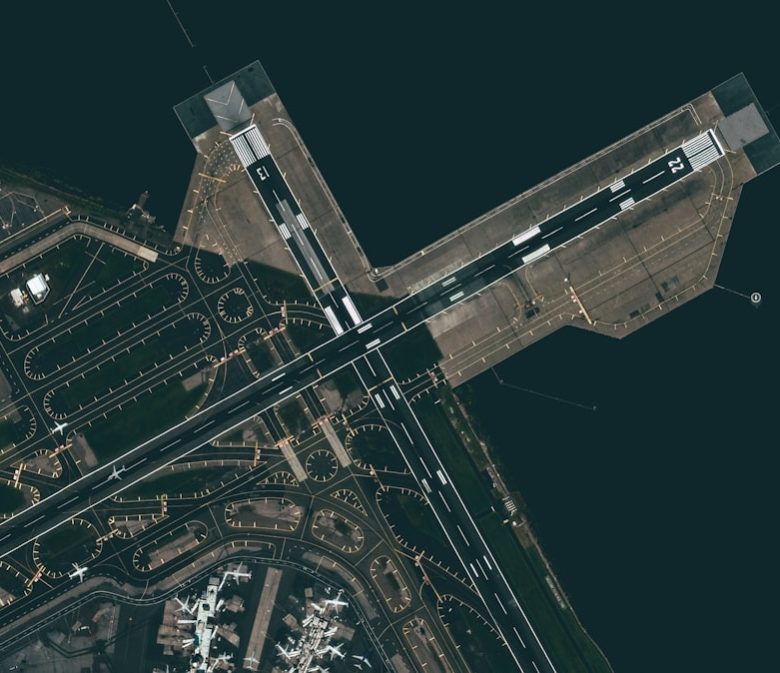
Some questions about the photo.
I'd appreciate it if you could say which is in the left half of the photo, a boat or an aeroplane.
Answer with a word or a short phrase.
aeroplane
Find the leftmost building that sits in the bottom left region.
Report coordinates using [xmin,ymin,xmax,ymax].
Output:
[176,573,227,673]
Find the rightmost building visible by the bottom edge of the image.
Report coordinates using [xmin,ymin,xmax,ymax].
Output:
[287,601,338,673]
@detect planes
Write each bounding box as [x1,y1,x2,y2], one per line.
[326,592,349,614]
[226,563,251,585]
[108,465,126,480]
[355,649,374,670]
[329,646,346,662]
[173,595,191,614]
[243,652,260,671]
[51,420,68,434]
[68,564,88,583]
[218,650,233,663]
[274,643,289,658]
